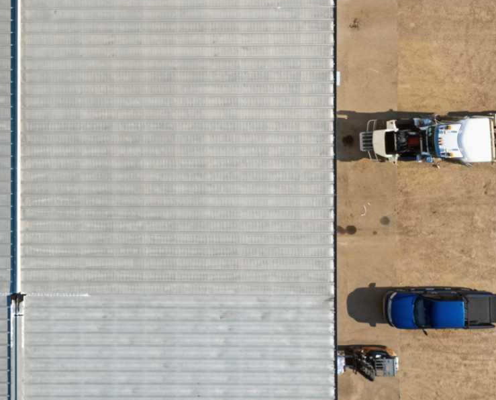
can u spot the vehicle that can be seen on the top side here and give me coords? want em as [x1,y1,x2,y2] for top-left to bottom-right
[356,113,496,171]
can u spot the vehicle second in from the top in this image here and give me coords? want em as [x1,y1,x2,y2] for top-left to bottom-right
[379,288,496,336]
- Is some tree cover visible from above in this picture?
No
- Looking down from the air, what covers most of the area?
buildings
